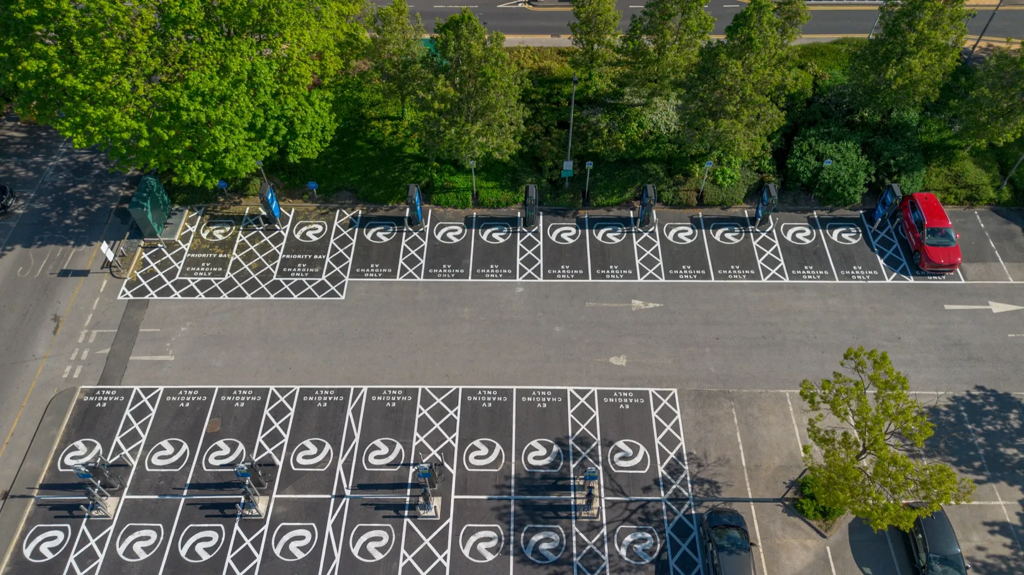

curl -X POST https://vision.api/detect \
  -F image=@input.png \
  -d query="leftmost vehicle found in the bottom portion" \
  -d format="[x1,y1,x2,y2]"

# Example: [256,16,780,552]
[700,504,762,575]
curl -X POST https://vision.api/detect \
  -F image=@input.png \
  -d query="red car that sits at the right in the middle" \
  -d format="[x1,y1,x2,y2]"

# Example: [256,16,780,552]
[896,196,960,274]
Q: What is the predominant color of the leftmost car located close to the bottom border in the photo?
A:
black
